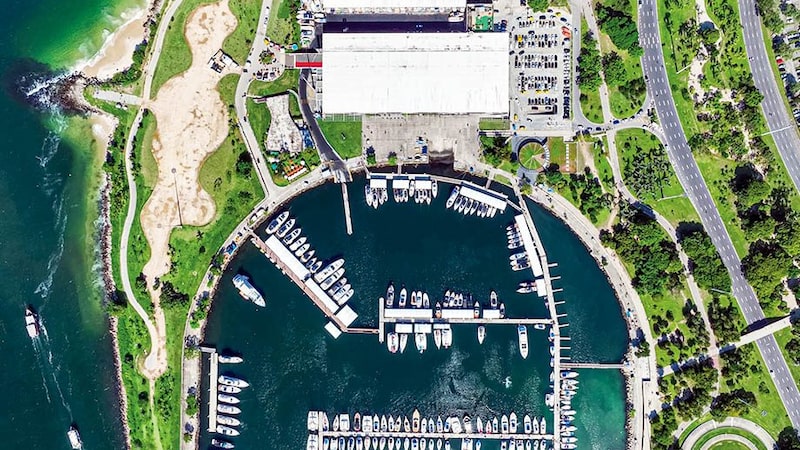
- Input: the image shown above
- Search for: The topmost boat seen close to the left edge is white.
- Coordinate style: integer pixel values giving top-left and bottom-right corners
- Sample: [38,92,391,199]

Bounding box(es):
[27,308,40,339]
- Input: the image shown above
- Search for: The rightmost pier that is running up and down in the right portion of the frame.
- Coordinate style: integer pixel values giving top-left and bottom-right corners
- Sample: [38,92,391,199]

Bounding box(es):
[513,189,561,450]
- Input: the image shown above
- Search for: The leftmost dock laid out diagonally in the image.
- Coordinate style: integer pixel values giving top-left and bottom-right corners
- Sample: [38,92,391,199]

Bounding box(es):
[252,234,348,331]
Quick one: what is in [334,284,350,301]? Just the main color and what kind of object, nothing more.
white boat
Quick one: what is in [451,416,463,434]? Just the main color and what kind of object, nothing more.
white boat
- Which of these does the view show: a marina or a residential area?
marina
